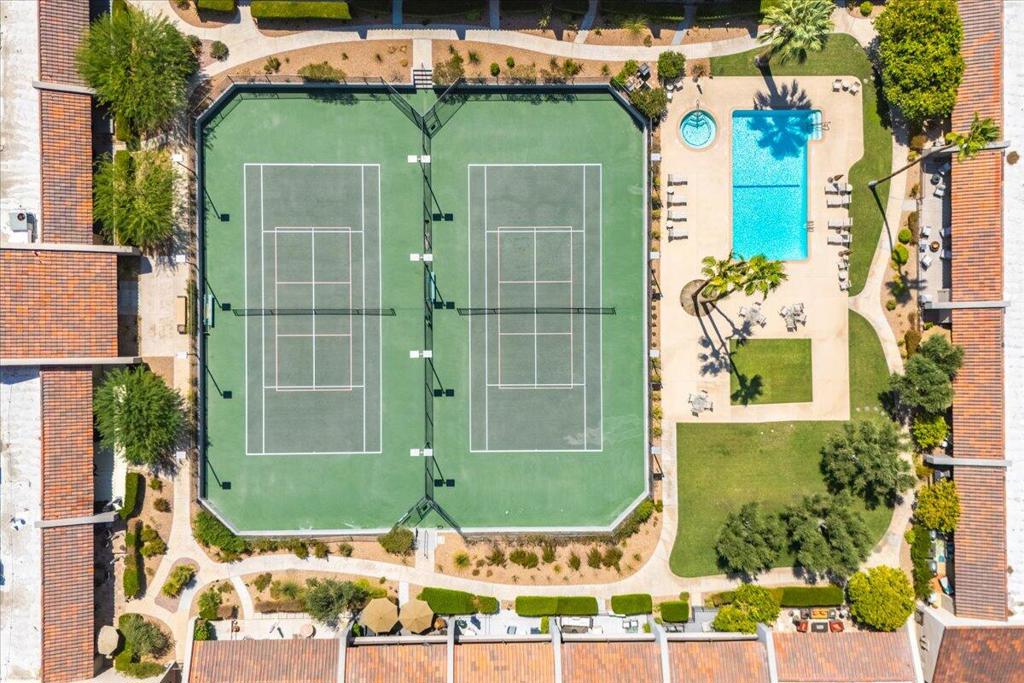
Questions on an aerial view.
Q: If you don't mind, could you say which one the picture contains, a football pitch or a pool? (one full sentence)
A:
The image shows a pool.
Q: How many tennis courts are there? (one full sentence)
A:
Altogether the scene contains 2 tennis courts.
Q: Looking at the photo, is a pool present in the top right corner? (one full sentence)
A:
Yes, a pool appears in the top right corner.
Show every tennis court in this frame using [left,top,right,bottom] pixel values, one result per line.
[427,89,644,529]
[203,88,429,531]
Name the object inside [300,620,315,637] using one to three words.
umbrella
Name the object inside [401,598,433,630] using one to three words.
umbrella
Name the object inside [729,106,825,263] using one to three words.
swimming pool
